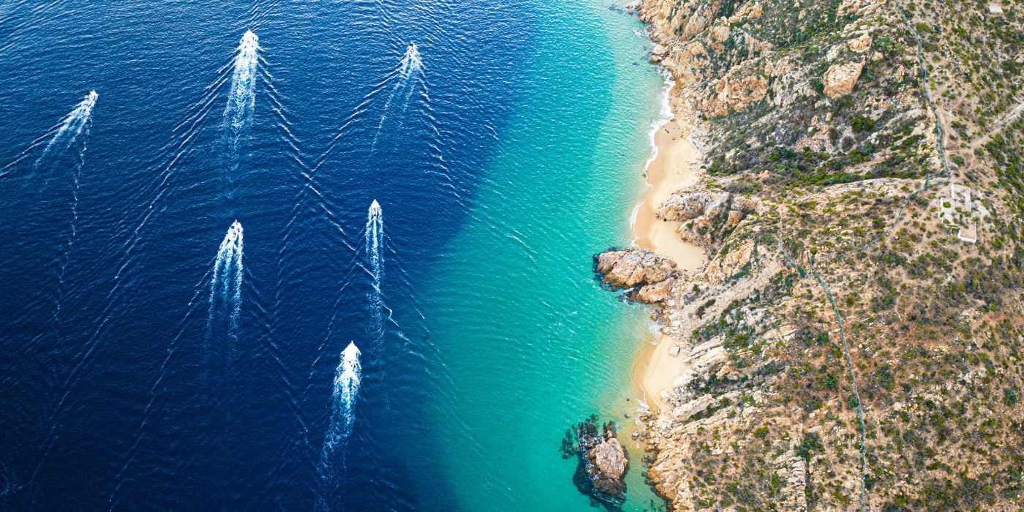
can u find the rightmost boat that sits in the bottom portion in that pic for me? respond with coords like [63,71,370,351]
[345,339,357,372]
